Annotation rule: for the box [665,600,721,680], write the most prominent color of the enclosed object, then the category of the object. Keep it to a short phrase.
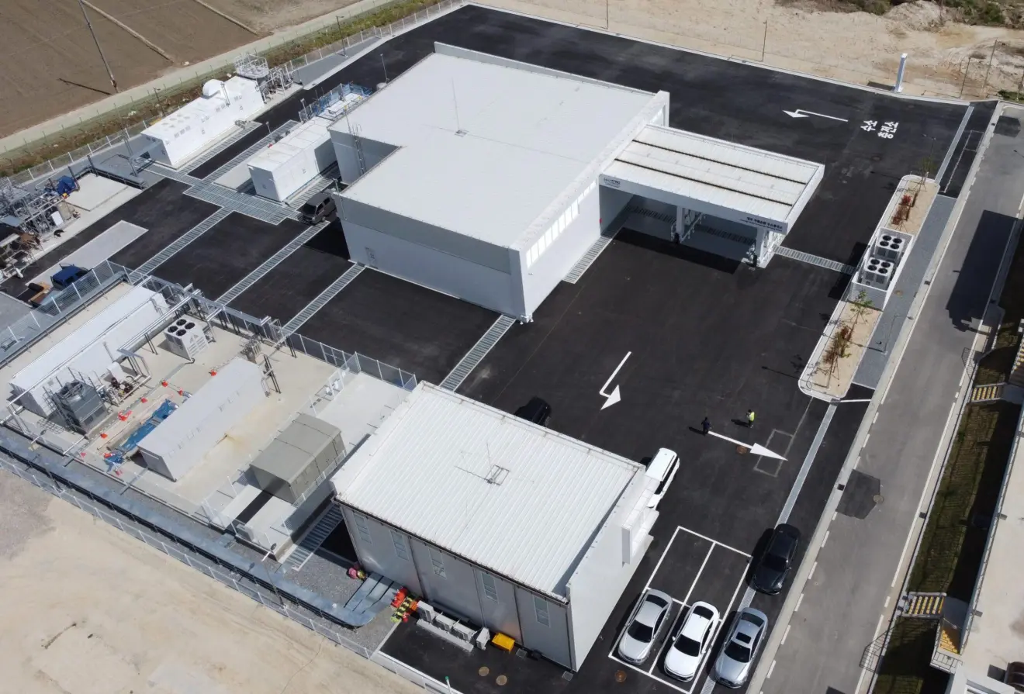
white car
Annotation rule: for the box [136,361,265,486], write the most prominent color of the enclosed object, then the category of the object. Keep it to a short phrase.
white shipping container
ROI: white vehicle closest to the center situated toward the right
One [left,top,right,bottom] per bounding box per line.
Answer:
[649,446,683,510]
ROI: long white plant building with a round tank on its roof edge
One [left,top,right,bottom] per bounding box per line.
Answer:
[139,76,266,167]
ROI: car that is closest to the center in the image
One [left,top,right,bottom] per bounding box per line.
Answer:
[521,397,558,426]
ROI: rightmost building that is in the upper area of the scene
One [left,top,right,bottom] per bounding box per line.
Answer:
[312,35,671,324]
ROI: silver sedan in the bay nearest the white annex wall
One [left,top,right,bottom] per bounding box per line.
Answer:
[615,589,673,668]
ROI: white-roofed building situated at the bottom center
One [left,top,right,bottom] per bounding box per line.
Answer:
[327,379,663,675]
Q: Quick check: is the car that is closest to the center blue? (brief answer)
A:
No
